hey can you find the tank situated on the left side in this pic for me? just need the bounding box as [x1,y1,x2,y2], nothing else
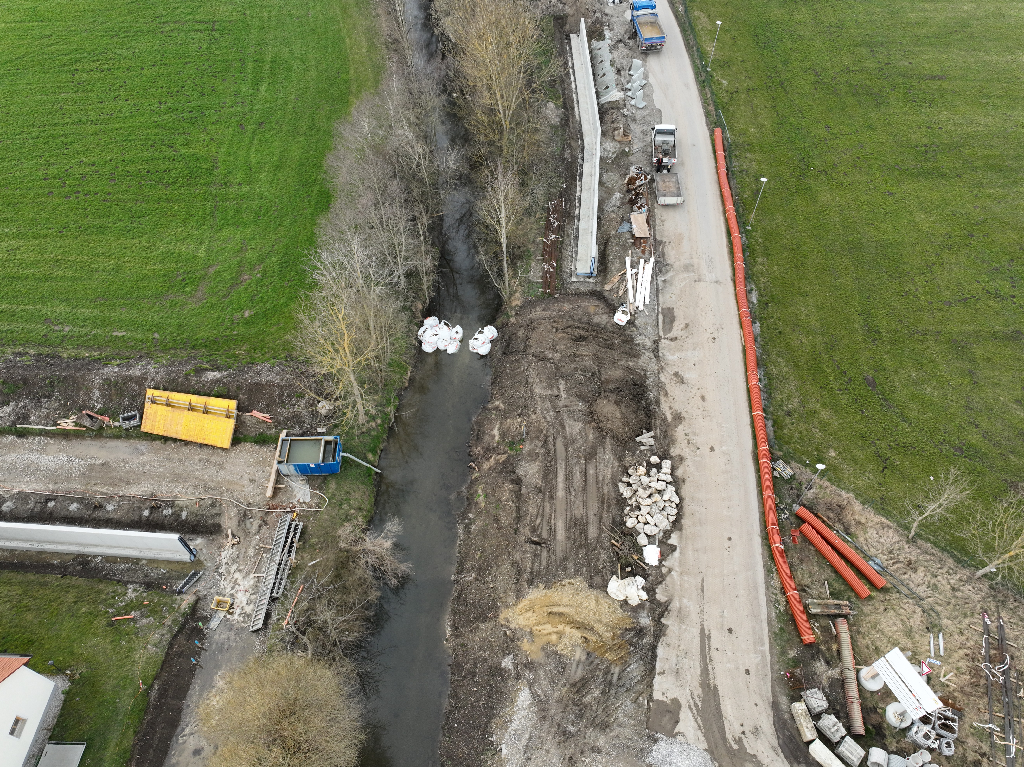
[274,435,345,478]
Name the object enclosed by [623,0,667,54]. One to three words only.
truck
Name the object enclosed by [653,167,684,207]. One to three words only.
trailer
